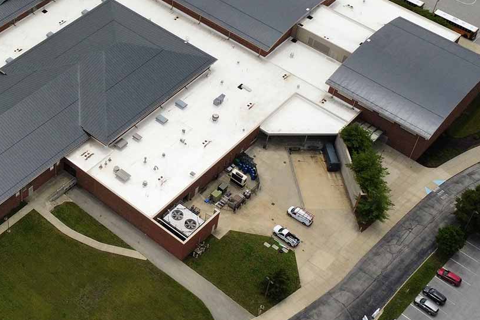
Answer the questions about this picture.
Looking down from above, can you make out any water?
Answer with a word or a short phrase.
No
